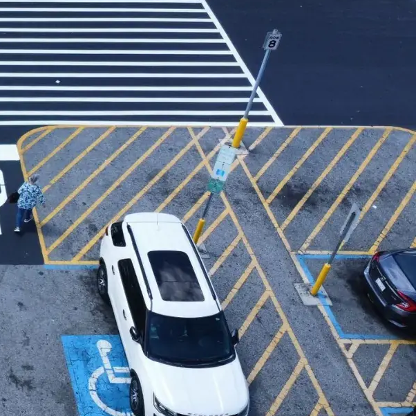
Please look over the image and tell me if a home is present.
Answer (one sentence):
No, there appears to be no home in this shot.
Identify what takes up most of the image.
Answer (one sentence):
The largest share of the image is taken up by paved ground.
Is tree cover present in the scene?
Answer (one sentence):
No, there's no tree cover in this view.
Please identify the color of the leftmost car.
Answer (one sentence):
The color of the leftmost car is white.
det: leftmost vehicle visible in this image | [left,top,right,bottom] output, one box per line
[94,211,252,416]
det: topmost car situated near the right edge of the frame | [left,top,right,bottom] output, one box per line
[367,245,416,327]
